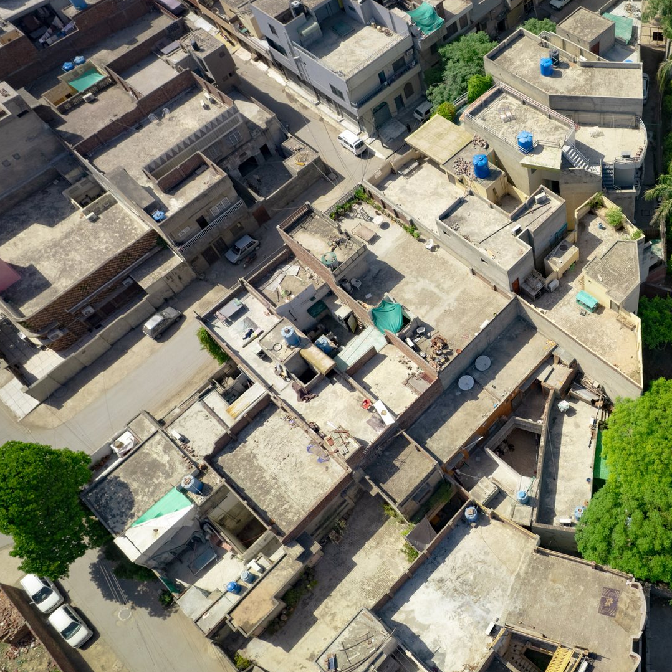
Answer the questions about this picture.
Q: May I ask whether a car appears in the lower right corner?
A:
No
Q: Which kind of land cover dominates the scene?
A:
buildings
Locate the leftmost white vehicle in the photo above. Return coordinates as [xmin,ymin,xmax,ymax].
[19,573,65,617]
